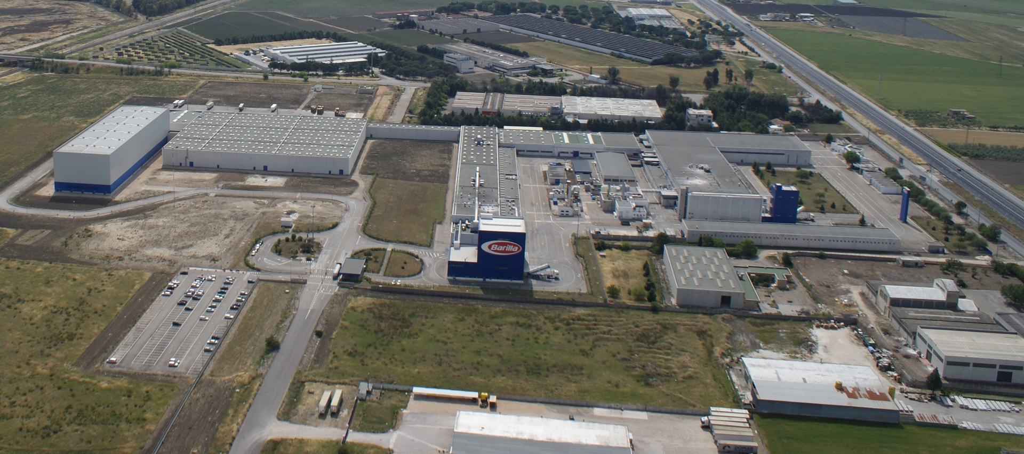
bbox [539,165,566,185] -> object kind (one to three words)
shed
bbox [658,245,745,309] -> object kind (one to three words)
building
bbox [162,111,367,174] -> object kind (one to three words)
building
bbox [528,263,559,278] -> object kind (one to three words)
vehicle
